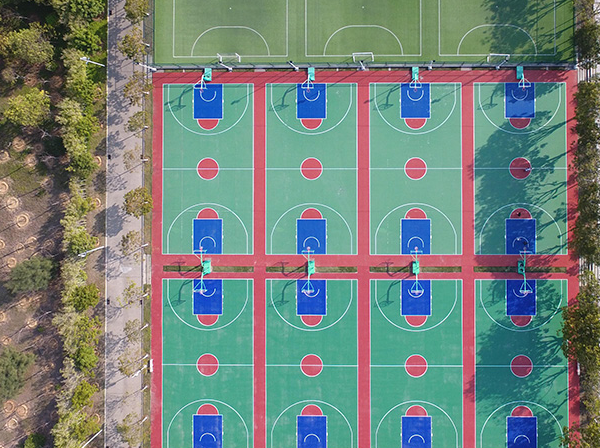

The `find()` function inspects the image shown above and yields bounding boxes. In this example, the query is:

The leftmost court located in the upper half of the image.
[150,69,260,267]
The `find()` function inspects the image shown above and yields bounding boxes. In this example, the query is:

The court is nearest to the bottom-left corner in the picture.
[150,267,260,448]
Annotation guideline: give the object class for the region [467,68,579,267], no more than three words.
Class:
basketball court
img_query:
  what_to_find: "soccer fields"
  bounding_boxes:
[297,0,430,63]
[155,0,297,64]
[430,0,576,63]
